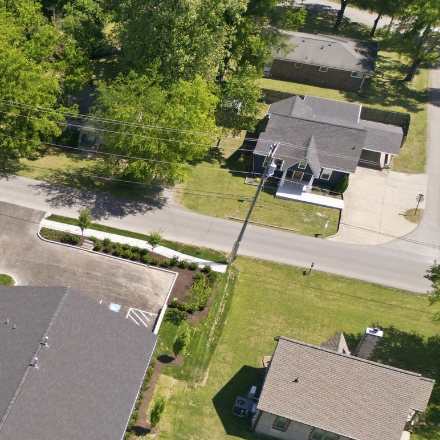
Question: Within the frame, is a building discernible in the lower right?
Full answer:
Yes, in the lower right there is a building.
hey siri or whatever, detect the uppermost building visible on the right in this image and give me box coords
[255,27,382,93]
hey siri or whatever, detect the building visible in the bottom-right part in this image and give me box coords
[251,317,432,440]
